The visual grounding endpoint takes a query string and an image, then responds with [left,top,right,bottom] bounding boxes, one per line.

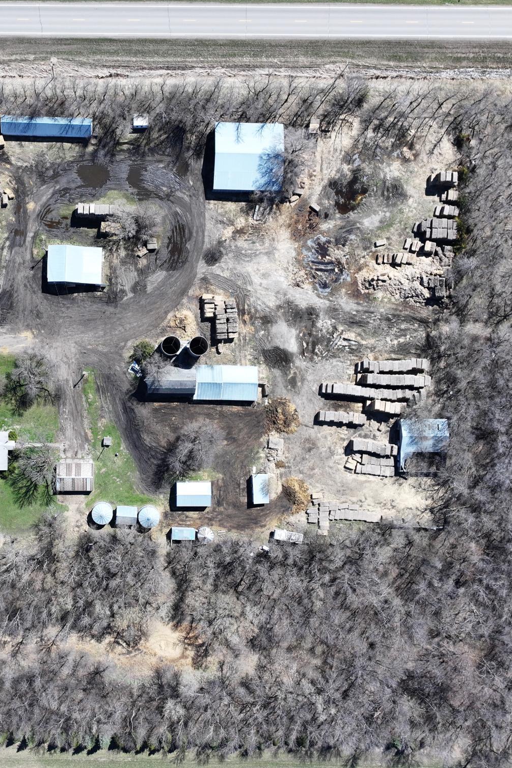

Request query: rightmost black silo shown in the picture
[187,336,209,356]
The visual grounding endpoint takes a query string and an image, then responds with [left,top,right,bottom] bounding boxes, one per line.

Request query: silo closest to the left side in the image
[92,500,113,524]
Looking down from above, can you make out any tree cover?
Yes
